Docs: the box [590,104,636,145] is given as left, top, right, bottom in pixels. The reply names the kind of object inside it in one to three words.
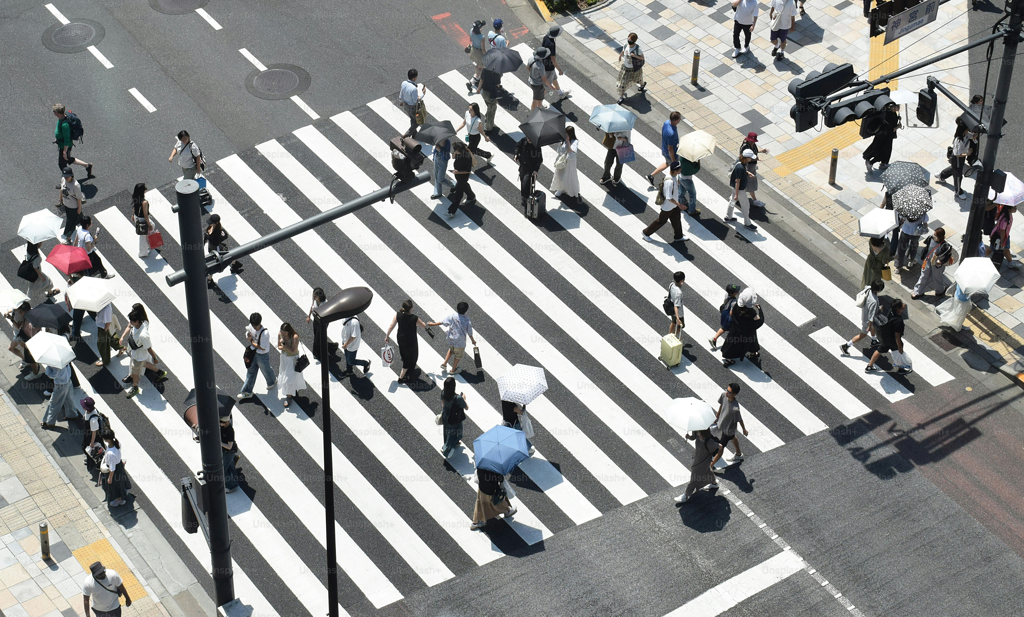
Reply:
umbrella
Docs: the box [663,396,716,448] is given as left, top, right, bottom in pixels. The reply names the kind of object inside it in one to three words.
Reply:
umbrella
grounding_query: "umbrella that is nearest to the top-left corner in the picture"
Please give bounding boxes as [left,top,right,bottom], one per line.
[17,208,63,244]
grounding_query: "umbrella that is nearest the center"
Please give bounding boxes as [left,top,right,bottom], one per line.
[497,364,548,405]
